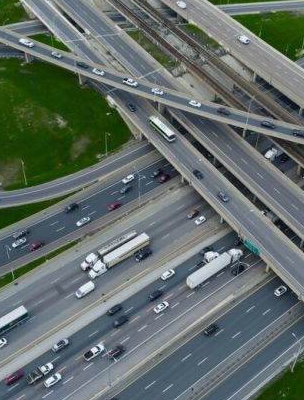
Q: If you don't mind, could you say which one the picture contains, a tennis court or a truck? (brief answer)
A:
truck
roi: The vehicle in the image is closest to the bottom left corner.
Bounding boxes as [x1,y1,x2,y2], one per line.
[4,371,23,386]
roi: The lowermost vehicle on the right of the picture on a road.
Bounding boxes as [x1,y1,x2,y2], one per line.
[202,324,218,338]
